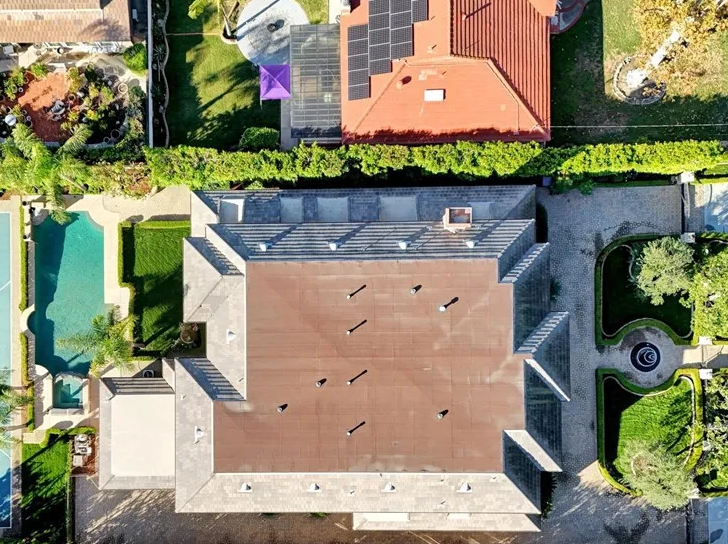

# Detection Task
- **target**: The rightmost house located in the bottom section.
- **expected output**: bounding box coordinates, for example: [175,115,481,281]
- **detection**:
[161,184,571,532]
